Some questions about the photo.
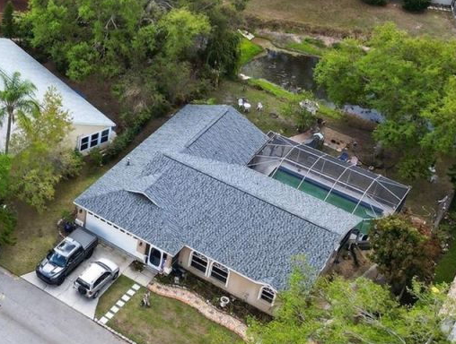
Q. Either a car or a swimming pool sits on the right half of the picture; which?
swimming pool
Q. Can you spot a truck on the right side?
No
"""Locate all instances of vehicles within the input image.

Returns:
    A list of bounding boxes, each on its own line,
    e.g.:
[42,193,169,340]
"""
[72,247,124,292]
[37,221,109,277]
